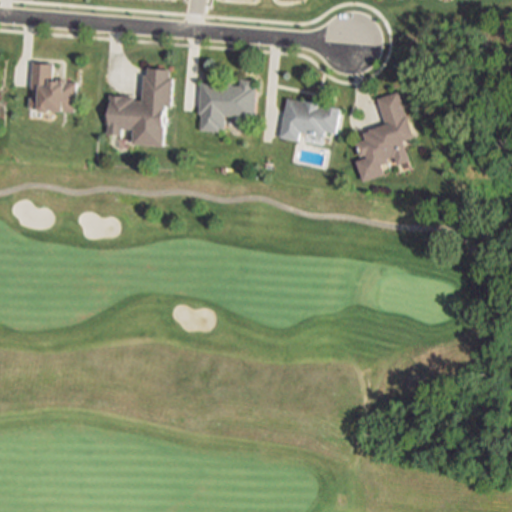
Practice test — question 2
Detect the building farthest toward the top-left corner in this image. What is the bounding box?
[28,62,79,114]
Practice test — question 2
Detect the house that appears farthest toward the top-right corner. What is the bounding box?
[354,92,418,182]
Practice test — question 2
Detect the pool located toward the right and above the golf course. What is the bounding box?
[293,134,332,170]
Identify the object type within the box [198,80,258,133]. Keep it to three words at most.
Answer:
house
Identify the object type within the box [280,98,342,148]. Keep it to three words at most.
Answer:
house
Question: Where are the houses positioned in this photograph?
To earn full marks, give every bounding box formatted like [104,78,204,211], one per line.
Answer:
[103,68,175,147]
[354,92,418,182]
[28,62,79,114]
[198,80,258,133]
[280,98,342,148]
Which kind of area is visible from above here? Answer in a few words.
golf course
